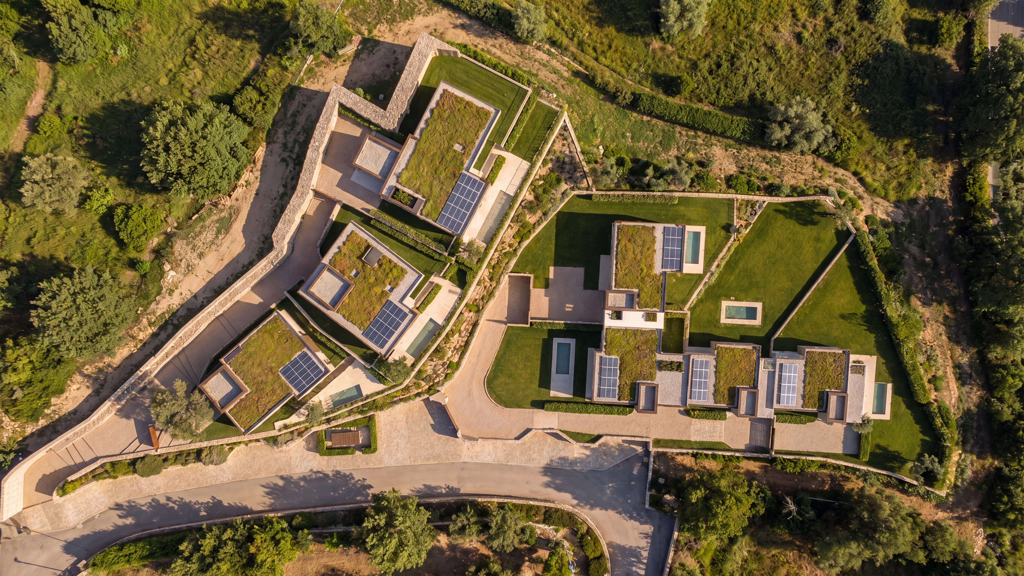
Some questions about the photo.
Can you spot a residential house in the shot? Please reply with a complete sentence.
Yes, a residential house is visible in the scene.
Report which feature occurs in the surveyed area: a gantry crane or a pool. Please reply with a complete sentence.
This aerial view contains a pool.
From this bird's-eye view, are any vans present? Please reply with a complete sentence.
No, there is no van in the image.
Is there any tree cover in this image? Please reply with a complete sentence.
Yes, there is tree cover in the image.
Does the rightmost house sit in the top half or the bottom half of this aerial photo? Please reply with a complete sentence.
The rightmost house is in the bottom half of the image.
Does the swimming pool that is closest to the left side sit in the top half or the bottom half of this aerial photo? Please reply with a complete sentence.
The swimming pool that is closest to the left side sits in the bottom half of the picture.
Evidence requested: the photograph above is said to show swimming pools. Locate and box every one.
[403,315,444,360]
[327,382,365,408]
[683,229,702,265]
[723,304,759,321]
[871,381,889,416]
[554,341,572,376]
[474,188,515,246]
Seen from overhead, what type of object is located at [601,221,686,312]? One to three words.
house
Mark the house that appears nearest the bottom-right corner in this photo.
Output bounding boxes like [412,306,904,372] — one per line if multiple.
[765,344,867,423]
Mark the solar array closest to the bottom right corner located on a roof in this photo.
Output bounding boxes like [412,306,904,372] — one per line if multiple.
[780,364,798,405]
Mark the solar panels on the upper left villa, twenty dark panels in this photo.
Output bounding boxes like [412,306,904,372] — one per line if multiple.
[437,172,484,233]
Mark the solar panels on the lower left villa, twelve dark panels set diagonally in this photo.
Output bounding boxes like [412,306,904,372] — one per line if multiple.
[280,351,323,393]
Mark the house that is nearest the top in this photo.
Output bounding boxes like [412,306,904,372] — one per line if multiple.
[353,80,501,240]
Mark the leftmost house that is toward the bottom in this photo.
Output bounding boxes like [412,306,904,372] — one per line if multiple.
[199,309,338,434]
